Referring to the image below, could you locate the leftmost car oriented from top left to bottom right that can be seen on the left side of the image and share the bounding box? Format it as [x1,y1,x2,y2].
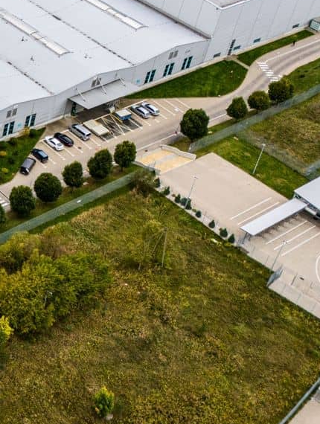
[29,146,51,164]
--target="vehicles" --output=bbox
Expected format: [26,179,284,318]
[129,103,152,120]
[140,99,162,116]
[19,156,37,174]
[43,135,65,151]
[54,131,76,148]
[29,146,51,164]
